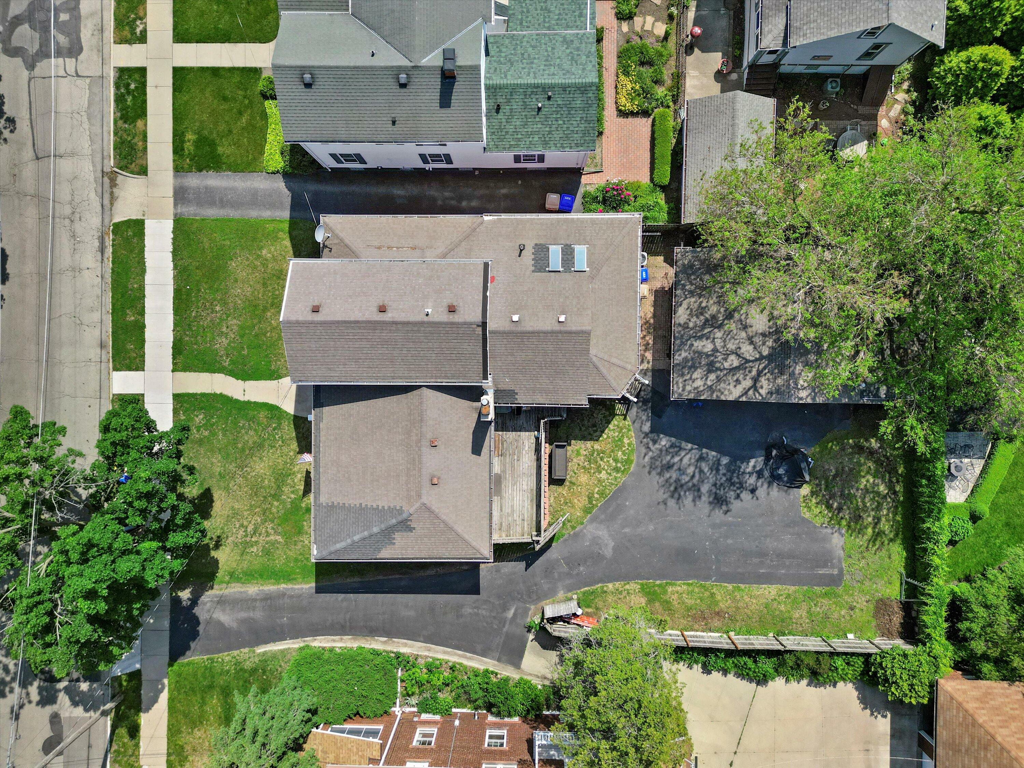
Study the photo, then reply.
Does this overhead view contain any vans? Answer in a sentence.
No, I can see no van in this picture.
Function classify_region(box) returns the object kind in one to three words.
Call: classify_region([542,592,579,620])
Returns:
shed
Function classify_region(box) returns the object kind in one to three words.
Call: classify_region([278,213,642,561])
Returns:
house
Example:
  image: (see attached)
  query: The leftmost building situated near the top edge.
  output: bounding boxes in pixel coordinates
[271,0,599,172]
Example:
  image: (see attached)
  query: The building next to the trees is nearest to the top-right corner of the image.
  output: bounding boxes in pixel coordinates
[744,0,946,106]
